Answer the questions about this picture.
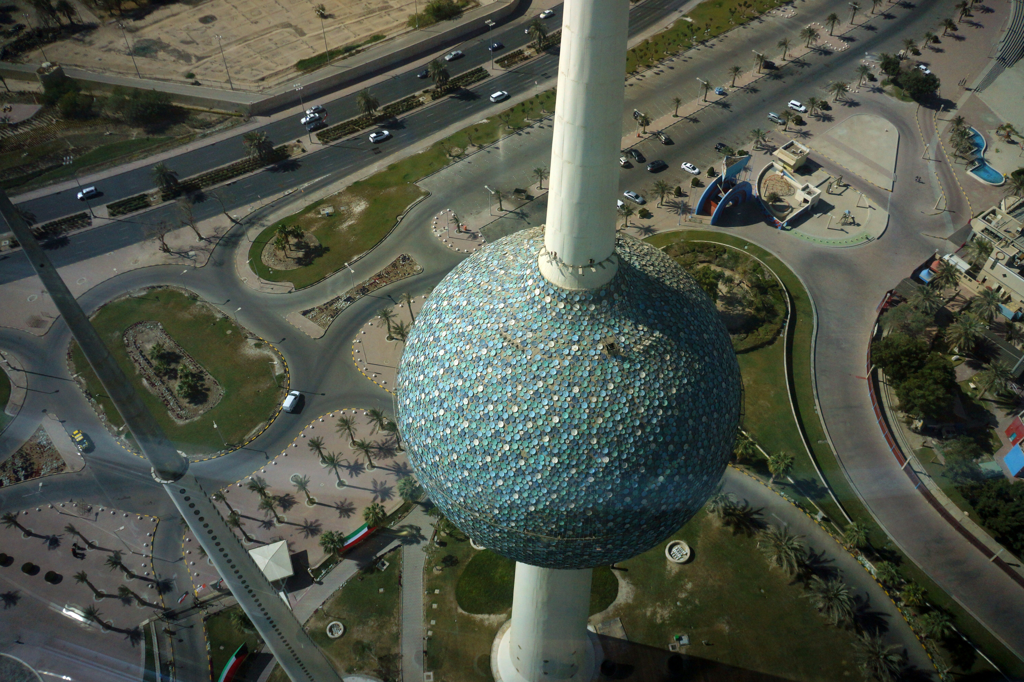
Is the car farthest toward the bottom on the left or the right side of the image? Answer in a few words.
left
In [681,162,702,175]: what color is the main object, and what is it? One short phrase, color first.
white vehicle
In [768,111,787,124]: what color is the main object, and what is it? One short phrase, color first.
gray vehicle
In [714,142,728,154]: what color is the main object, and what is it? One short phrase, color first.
black vehicle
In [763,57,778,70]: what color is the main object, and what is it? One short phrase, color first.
black vehicle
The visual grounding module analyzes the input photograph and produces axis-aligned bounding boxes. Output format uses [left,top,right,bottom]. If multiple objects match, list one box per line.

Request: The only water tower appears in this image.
[389,0,748,682]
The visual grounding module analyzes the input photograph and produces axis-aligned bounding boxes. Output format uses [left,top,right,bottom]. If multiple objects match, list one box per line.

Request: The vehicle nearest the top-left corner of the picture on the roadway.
[78,187,98,199]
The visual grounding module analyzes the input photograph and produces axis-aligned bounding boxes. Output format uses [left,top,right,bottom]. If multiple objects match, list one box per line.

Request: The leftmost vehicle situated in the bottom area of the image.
[67,425,90,451]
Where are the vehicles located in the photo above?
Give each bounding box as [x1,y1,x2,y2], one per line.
[763,57,778,70]
[306,105,323,114]
[768,111,787,124]
[540,9,554,18]
[369,130,390,142]
[283,390,300,410]
[446,50,462,59]
[490,91,509,102]
[681,162,702,175]
[489,42,504,50]
[624,192,645,204]
[647,160,667,171]
[301,113,320,124]
[632,107,643,121]
[308,121,326,132]
[615,198,625,208]
[524,24,538,33]
[945,250,978,271]
[416,68,433,78]
[67,425,90,451]
[790,100,807,111]
[657,131,673,145]
[714,142,728,154]
[78,187,98,199]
